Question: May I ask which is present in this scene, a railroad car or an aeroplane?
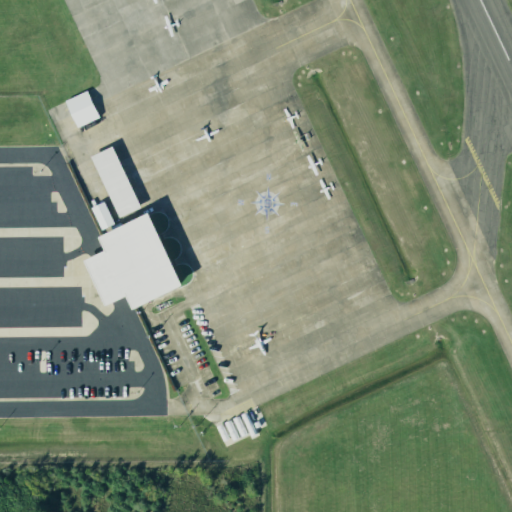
aeroplane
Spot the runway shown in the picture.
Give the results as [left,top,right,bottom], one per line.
[446,0,512,262]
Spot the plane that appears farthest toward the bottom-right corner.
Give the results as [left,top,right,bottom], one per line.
[248,329,272,354]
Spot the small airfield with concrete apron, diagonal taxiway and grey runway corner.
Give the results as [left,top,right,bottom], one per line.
[49,0,512,424]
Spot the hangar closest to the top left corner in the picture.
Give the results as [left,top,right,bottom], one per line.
[66,90,101,128]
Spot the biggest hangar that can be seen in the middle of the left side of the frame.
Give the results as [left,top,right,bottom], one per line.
[84,213,181,310]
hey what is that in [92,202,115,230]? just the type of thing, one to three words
shed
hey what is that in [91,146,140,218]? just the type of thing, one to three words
shed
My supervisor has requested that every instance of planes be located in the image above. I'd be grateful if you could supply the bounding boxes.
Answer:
[320,179,335,200]
[248,329,272,354]
[307,156,323,176]
[294,132,310,152]
[284,108,300,128]
[149,74,170,92]
[196,125,219,142]
[164,16,180,37]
